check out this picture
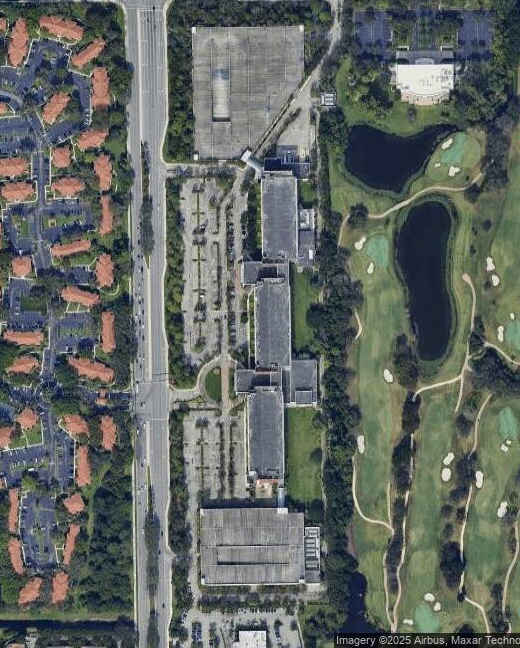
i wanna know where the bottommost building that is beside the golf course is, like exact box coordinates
[200,507,305,586]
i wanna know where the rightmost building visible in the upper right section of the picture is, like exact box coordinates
[390,59,460,106]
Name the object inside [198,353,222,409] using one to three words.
roundabout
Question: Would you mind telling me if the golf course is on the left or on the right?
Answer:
right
